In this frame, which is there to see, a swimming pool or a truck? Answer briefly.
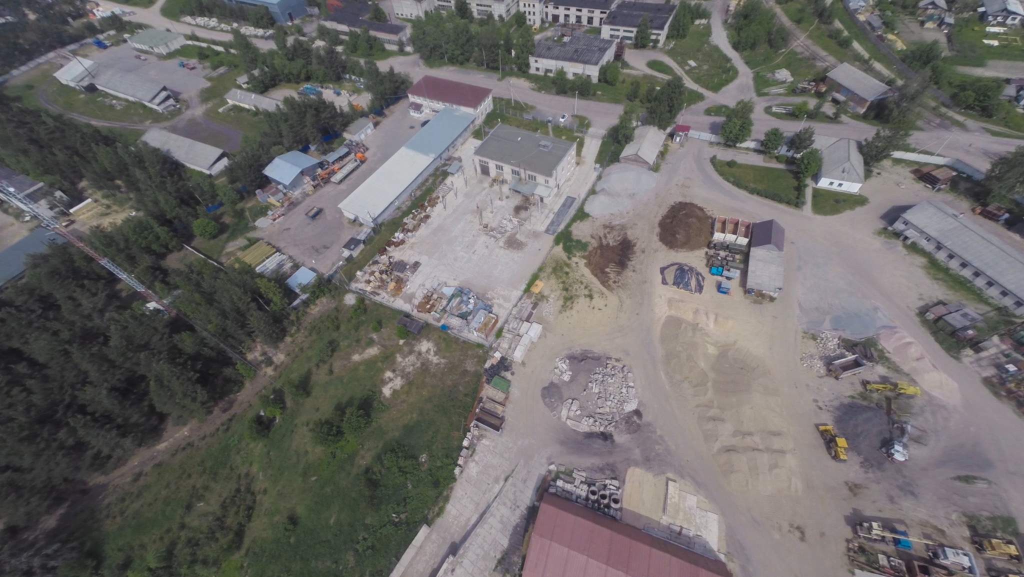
truck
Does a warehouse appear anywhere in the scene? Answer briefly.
Yes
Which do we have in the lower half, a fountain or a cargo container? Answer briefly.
cargo container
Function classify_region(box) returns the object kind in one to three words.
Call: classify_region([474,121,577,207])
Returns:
building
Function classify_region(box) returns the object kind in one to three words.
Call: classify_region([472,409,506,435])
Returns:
shipping container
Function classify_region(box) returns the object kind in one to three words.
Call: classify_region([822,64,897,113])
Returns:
house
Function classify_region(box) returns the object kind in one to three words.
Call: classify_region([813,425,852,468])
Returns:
work vehicle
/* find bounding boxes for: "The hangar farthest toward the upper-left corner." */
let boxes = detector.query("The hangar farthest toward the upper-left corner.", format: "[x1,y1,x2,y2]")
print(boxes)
[55,48,128,80]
